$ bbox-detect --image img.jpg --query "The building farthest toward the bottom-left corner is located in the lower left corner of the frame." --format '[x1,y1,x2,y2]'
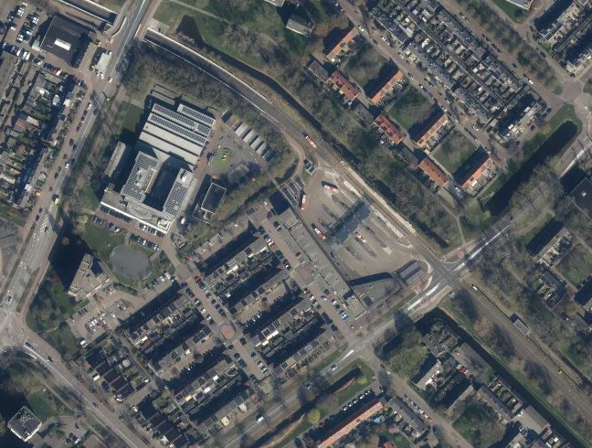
[8,406,43,442]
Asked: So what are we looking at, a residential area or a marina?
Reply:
residential area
